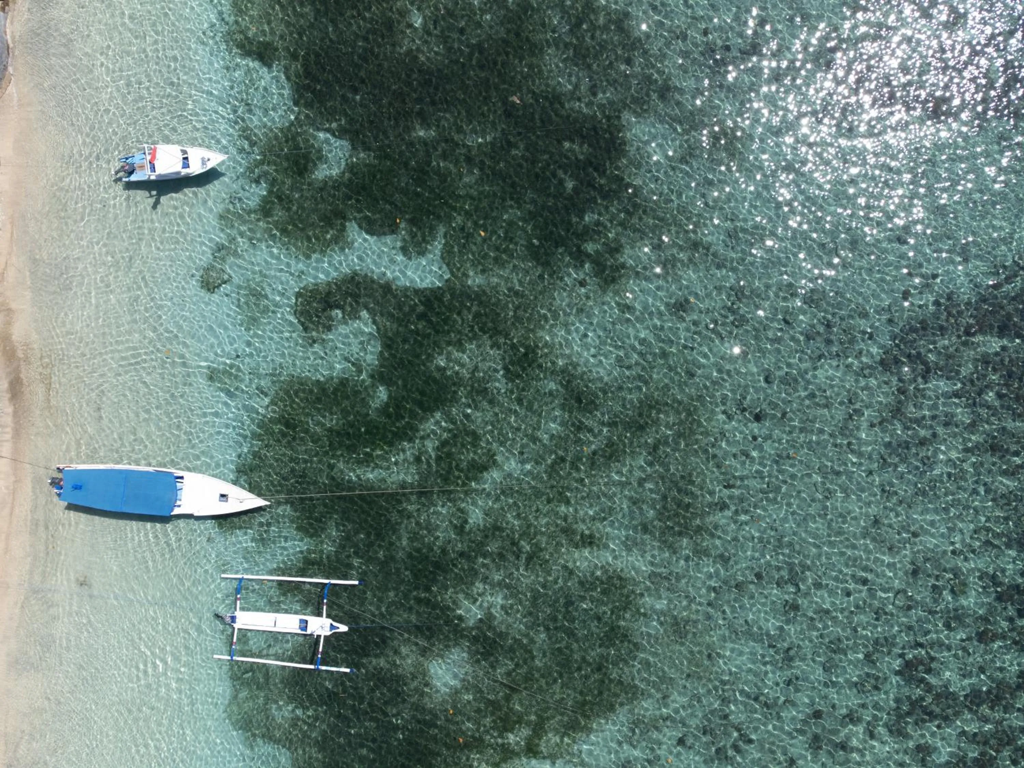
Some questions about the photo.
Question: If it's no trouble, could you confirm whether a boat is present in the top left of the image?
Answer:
Yes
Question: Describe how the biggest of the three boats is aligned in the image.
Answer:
horizontally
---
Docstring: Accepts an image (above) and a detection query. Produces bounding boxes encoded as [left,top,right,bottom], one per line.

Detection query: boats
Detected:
[213,574,364,672]
[111,144,228,180]
[52,464,270,516]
